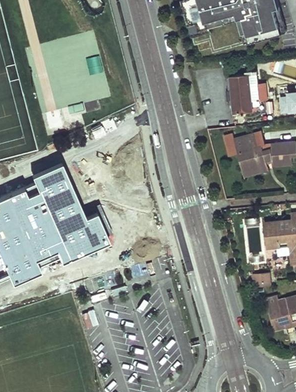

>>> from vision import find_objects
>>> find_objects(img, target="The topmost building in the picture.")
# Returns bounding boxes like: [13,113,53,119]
[183,0,279,52]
